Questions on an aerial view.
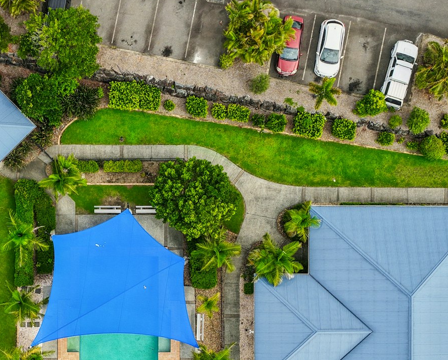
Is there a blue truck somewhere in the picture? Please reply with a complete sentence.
No, there isn't any blue truck down there.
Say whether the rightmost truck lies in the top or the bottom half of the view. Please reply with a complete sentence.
It is in the top half that the rightmost truck appears.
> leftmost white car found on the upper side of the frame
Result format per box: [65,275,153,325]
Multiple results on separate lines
[313,17,345,81]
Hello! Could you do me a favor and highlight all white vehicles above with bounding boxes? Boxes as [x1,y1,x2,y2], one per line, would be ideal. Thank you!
[313,17,345,81]
[379,36,419,115]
